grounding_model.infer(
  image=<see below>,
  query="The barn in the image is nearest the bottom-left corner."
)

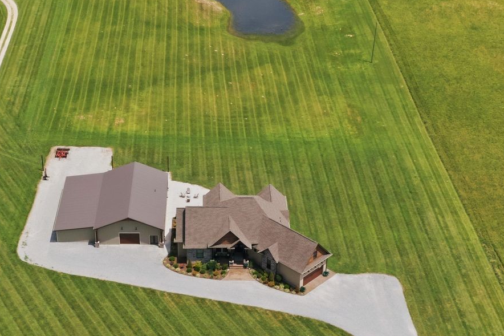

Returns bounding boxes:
[54,161,170,245]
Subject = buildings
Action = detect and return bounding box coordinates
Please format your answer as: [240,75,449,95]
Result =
[174,183,333,287]
[54,161,170,245]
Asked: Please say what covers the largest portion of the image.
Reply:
grass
